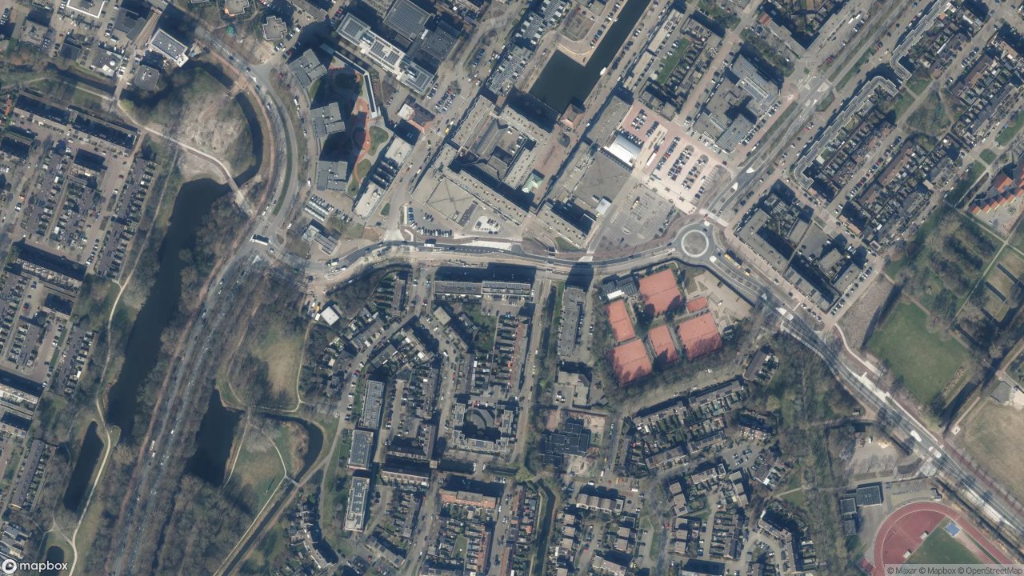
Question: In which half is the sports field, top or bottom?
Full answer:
The sports field sits in the bottom half of the picture.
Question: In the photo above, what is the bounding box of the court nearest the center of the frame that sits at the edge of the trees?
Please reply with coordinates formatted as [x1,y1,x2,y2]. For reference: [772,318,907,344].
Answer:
[607,300,635,341]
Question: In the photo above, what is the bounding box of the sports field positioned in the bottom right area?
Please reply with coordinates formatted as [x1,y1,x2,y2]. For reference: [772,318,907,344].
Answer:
[893,516,1009,576]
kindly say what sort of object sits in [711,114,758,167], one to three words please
building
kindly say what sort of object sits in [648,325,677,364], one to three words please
tennis court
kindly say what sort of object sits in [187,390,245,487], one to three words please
pond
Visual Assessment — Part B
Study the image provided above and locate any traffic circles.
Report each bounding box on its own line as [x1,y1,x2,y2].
[674,222,716,264]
